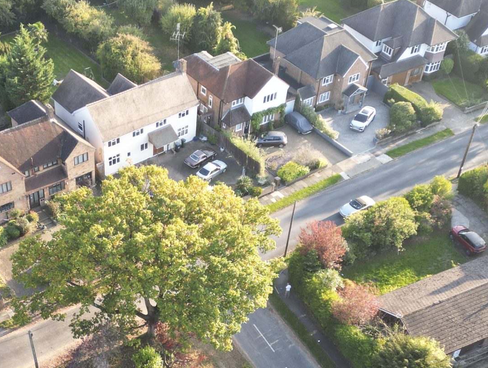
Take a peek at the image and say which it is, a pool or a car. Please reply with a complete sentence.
There is a car in the scene.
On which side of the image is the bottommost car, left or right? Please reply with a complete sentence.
The bottommost car appears in the right half of the scene.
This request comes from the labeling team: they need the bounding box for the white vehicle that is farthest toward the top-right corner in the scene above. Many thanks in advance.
[346,102,380,131]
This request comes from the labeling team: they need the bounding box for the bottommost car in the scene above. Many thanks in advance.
[450,226,488,256]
